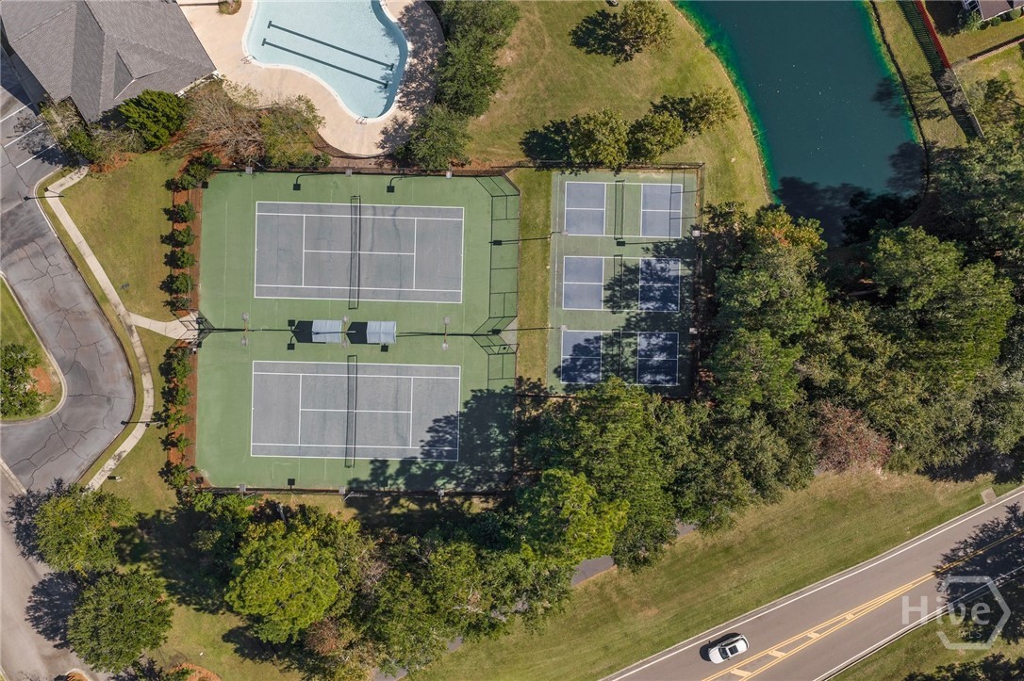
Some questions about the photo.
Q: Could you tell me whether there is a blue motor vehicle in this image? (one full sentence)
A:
No, no blue motor vehicle is visible in the view.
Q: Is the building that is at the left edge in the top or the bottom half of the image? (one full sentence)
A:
Seen from above, the building that is at the left edge lies in the top half of the view.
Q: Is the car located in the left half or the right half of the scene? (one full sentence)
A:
You can find the car on the right side of the picture.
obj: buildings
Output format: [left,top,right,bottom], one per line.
[0,0,223,123]
[941,0,1024,28]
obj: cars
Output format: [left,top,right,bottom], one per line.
[706,634,748,663]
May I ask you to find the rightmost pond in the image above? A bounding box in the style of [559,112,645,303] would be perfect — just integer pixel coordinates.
[674,0,921,246]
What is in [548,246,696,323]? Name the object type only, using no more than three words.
sports court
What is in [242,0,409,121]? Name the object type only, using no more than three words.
swimming pool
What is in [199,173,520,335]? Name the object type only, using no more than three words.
tennis court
